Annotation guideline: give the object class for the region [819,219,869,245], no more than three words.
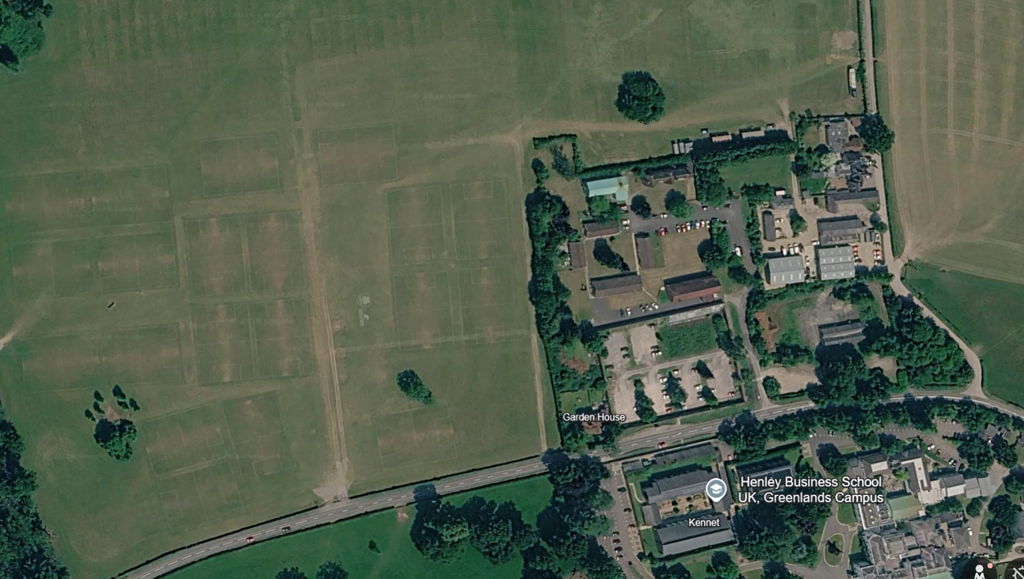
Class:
barn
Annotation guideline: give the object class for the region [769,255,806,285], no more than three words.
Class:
building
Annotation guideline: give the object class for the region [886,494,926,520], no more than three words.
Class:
building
